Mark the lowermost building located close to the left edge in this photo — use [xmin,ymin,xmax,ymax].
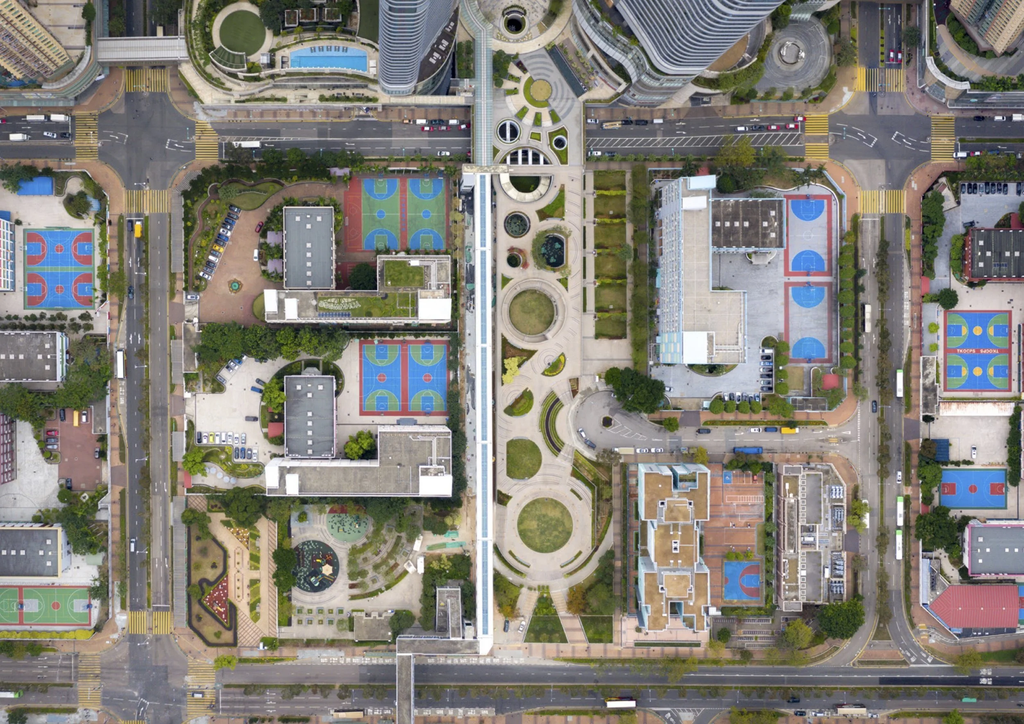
[0,519,73,578]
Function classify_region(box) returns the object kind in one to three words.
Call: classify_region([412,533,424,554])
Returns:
vehicle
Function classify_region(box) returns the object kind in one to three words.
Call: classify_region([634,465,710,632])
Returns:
building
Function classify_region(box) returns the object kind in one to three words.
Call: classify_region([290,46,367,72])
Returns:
swimming pool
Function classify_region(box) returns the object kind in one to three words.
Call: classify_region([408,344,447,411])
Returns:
basketball court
